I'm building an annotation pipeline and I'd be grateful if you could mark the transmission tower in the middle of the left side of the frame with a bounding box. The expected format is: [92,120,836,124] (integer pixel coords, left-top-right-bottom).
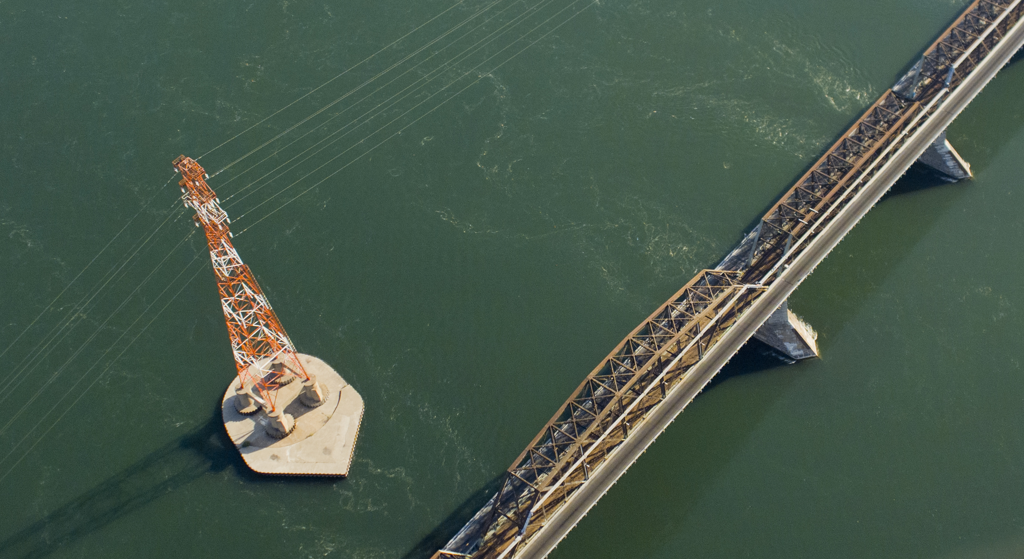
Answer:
[172,153,312,412]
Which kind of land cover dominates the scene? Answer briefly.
water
